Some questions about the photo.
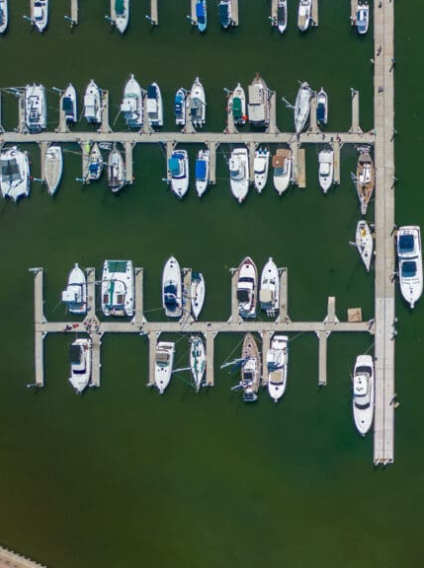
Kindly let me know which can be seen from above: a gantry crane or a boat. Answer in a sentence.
The image shows a boat.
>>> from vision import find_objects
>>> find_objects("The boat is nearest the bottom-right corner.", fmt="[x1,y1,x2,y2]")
[353,348,376,436]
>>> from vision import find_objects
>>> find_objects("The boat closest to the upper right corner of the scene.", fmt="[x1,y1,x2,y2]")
[357,1,369,34]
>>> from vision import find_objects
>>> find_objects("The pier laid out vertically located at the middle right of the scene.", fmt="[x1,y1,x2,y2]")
[373,0,394,465]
